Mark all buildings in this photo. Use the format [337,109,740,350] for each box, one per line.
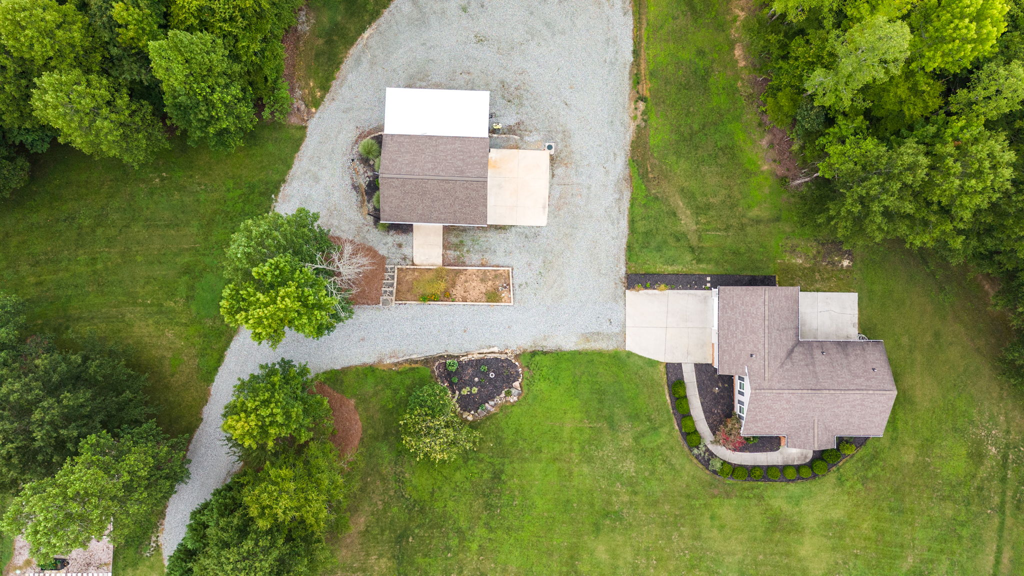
[712,286,896,451]
[378,87,491,227]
